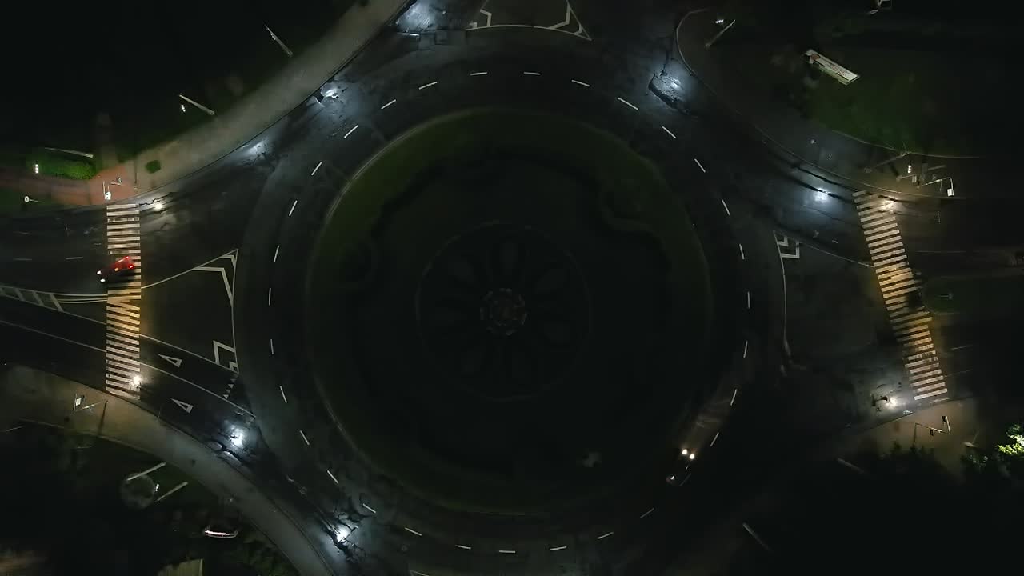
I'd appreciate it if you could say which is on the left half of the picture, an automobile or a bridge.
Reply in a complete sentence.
The one visible on the left half of the picture is an automobile.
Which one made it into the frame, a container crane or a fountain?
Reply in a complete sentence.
There is a fountain in the scene.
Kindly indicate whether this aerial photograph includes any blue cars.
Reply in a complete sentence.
No, there is no blue car in the image.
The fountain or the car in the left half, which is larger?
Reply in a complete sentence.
The larger object is the fountain, with the car being the smaller of the pair.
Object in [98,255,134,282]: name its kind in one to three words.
car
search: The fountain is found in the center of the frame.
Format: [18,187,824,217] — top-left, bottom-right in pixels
[480,288,526,334]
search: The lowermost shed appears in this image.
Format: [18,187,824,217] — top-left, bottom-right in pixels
[159,548,210,576]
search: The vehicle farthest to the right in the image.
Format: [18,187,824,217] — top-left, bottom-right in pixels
[667,450,694,486]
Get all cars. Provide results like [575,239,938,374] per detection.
[98,255,134,282]
[667,450,694,486]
